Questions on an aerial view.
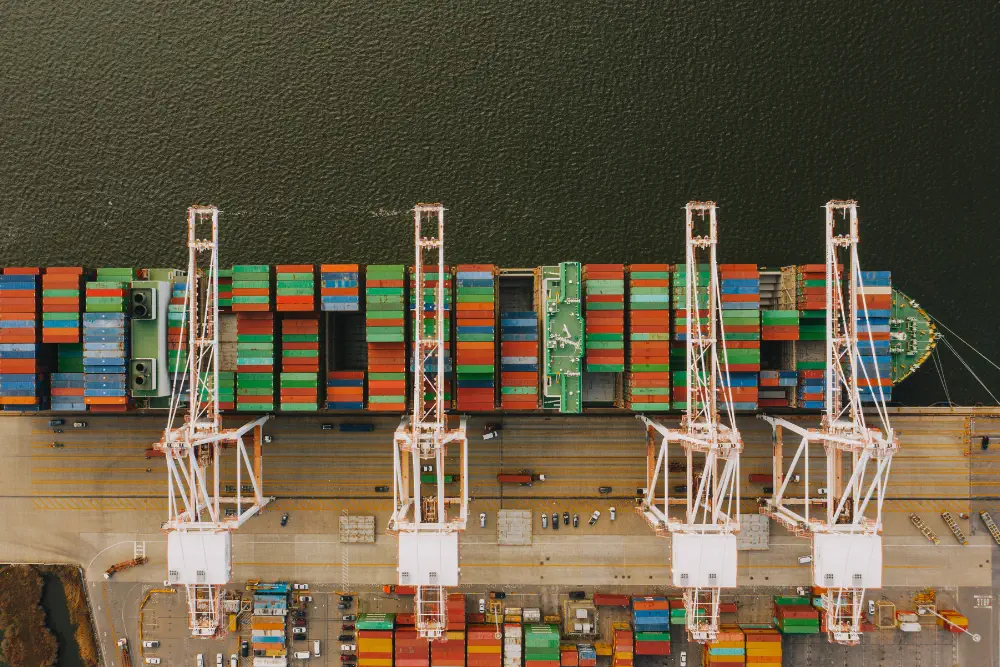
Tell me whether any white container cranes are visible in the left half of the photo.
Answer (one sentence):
Yes, looking in the left half of the photo, one can make out a white container crane.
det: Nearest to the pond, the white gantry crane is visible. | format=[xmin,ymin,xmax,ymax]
[155,206,277,642]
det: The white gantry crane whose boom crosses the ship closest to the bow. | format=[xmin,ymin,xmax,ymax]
[754,200,901,642]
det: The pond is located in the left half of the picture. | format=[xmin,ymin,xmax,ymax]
[42,566,78,667]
